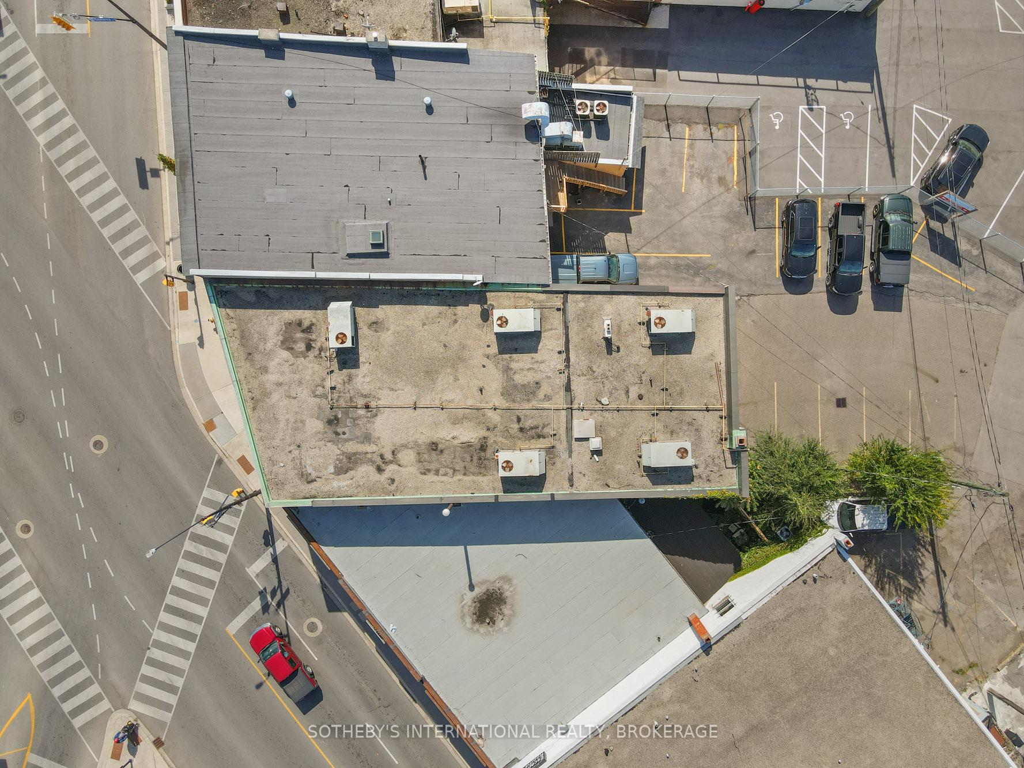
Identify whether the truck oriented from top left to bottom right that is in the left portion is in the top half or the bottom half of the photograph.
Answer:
bottom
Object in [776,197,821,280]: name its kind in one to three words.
car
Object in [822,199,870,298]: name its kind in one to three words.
truck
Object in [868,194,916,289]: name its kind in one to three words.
truck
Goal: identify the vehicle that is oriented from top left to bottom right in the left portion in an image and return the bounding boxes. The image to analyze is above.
[250,622,318,705]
